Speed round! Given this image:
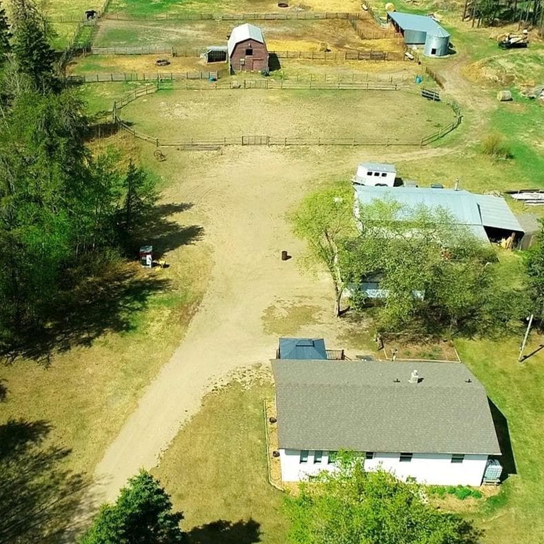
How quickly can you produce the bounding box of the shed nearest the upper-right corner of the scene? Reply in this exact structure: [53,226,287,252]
[383,10,446,44]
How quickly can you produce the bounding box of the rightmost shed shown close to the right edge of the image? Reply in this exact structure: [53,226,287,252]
[517,219,544,252]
